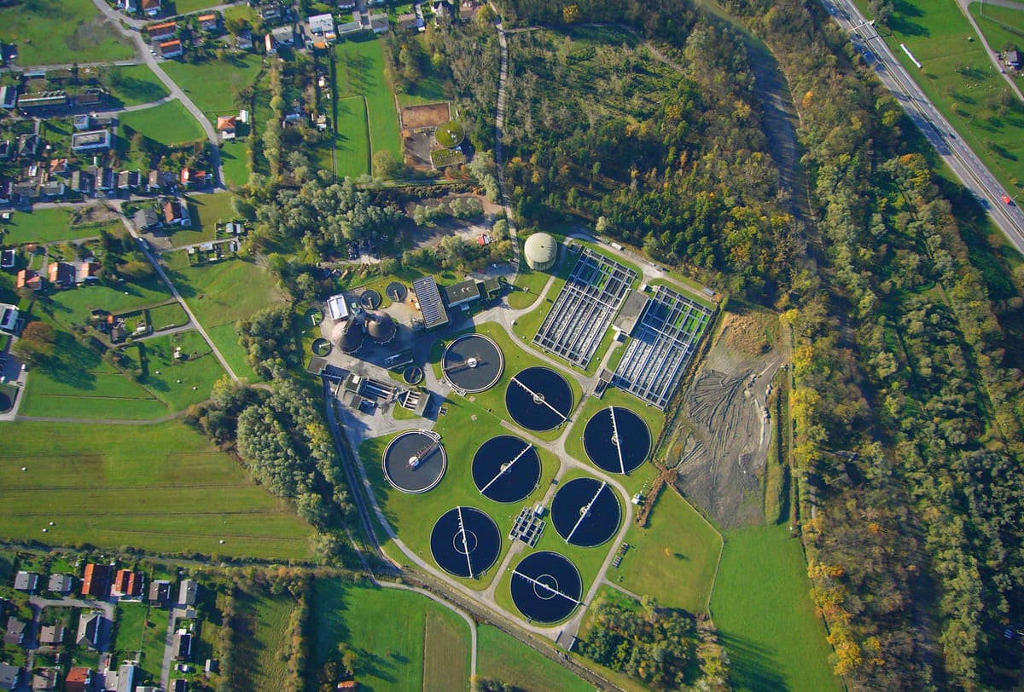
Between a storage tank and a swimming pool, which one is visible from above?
storage tank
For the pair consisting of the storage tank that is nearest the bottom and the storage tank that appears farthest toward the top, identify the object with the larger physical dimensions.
the storage tank that is nearest the bottom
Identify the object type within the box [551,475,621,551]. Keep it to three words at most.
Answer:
storage tank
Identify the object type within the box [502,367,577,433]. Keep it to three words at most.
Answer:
storage tank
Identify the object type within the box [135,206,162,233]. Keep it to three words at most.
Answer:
house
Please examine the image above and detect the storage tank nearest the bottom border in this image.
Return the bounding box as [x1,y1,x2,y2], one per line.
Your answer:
[509,552,585,625]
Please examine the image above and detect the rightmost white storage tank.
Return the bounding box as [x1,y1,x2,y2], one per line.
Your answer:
[526,236,559,274]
